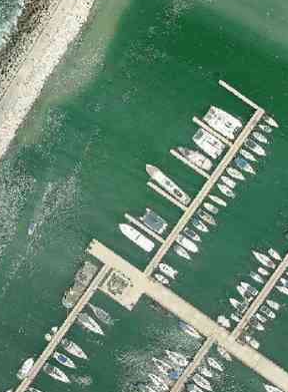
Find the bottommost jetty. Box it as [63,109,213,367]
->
[170,339,217,392]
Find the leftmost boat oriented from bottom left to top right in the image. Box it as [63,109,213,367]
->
[16,360,31,380]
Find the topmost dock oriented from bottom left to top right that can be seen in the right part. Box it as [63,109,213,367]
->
[142,106,266,276]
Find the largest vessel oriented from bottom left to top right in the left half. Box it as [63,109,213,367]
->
[63,261,96,308]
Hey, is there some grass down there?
No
